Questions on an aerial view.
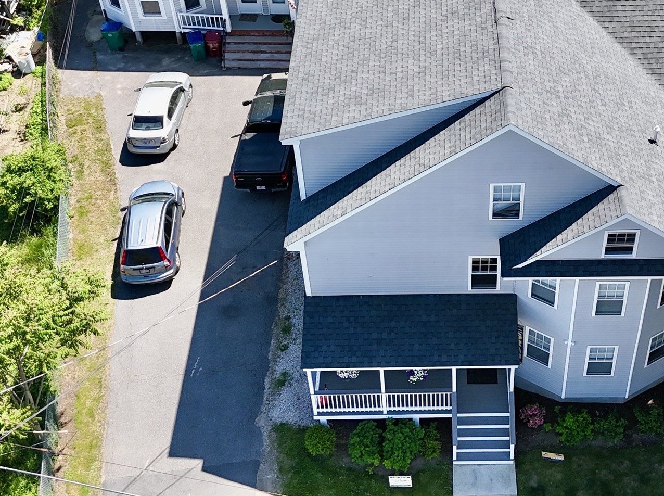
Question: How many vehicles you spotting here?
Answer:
3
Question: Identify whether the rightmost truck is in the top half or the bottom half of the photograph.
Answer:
top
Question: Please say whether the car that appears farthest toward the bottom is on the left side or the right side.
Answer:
left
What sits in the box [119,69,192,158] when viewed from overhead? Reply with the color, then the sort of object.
white car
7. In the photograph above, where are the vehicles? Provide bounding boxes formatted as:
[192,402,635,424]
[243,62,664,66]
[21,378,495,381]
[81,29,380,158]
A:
[119,69,192,158]
[120,178,188,282]
[231,73,294,191]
